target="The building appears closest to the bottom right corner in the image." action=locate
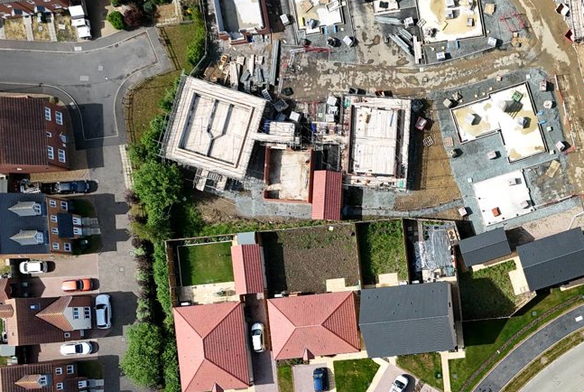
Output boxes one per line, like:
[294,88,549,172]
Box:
[516,228,584,292]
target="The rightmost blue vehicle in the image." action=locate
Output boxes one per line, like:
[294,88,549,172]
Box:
[313,367,328,392]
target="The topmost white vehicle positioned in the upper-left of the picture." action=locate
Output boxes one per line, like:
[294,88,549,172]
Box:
[66,0,89,40]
